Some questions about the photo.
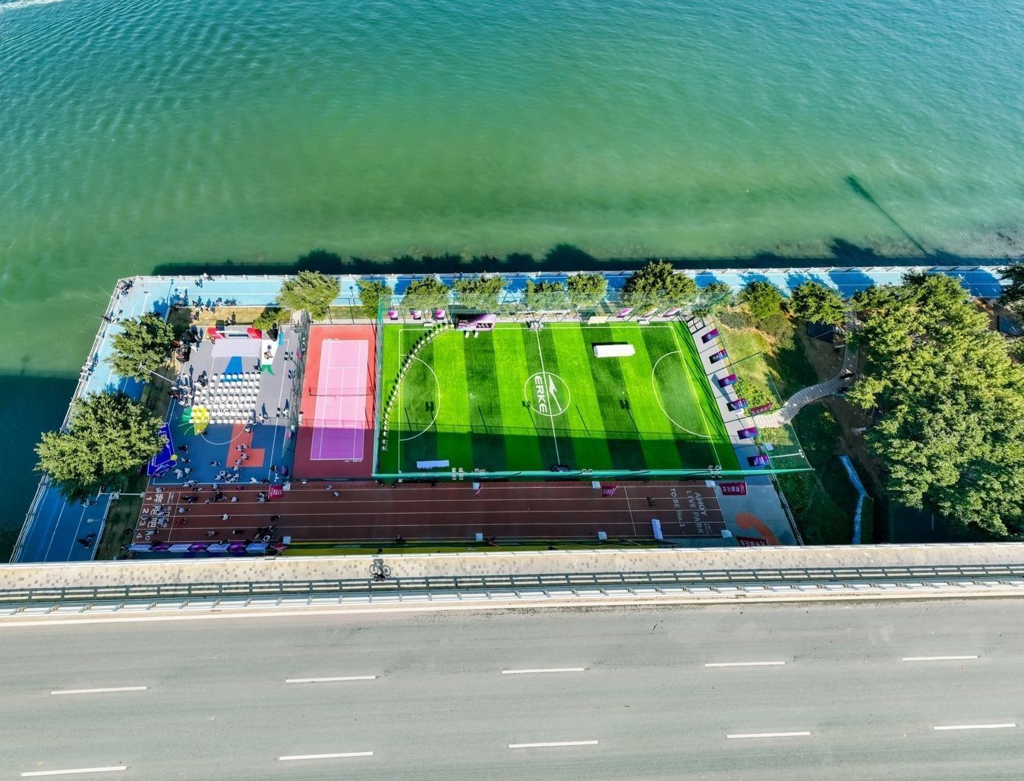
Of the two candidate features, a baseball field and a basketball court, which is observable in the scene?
basketball court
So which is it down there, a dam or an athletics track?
athletics track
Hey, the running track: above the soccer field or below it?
below it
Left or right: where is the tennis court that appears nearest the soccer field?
left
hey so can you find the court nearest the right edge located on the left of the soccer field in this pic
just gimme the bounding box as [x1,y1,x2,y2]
[293,333,376,486]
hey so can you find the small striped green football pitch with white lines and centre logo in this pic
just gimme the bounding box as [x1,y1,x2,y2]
[376,329,745,490]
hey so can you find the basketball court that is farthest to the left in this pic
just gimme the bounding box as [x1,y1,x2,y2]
[148,333,309,494]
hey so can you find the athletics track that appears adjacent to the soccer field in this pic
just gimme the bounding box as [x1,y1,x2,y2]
[131,486,728,551]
